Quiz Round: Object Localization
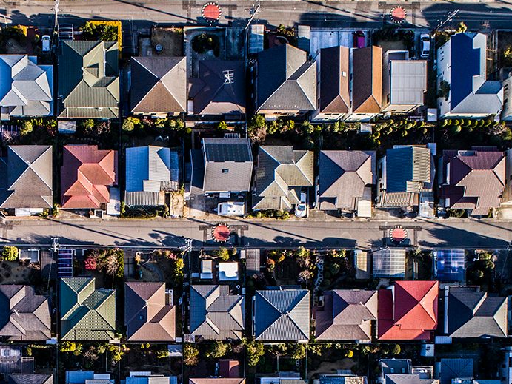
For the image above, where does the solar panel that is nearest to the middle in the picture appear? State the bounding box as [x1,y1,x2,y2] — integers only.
[207,141,249,159]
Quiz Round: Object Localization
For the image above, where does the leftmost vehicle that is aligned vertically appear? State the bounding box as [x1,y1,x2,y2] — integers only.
[40,29,53,55]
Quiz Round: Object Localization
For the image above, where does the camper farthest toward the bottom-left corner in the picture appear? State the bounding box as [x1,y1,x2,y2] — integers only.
[216,199,249,215]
